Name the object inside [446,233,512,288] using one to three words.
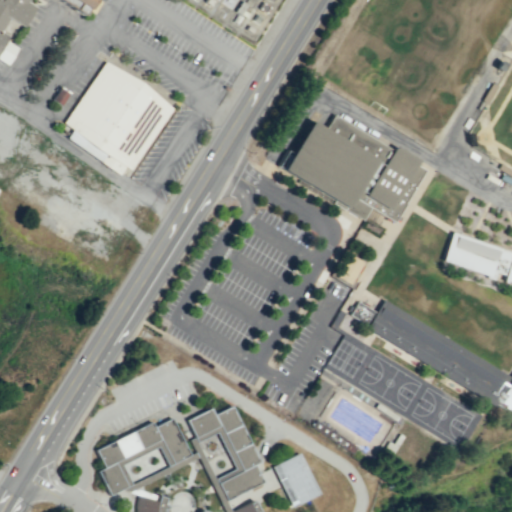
building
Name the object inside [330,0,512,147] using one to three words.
sports field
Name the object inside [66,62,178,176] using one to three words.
building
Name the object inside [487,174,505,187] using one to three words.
vehicle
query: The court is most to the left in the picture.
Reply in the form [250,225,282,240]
[330,340,368,378]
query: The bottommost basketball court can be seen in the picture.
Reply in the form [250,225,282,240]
[412,387,476,442]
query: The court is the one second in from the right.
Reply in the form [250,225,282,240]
[359,356,422,411]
